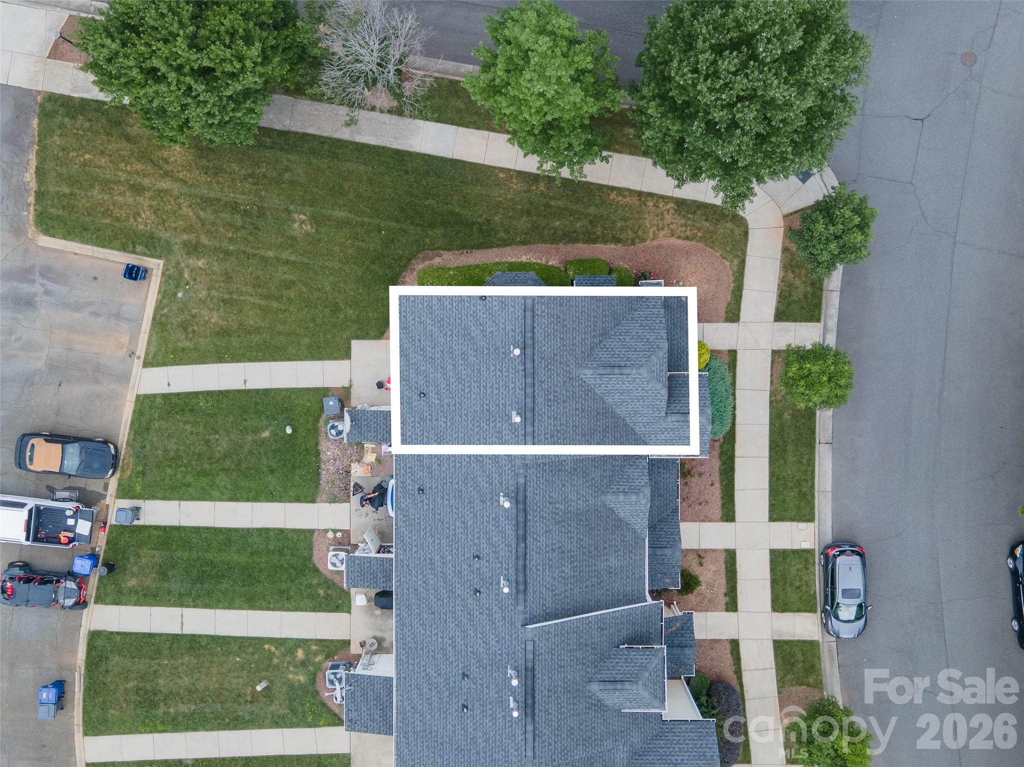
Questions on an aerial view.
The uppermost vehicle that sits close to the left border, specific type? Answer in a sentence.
It turns out the uppermost vehicle that sits close to the left border is a car.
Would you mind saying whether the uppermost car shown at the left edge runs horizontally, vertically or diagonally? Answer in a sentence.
The uppermost car shown at the left edge runs horizontally in the image.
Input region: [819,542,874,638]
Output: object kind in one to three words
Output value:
car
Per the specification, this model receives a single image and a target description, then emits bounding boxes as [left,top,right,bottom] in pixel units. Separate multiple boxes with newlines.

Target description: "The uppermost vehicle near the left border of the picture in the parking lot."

[15,431,123,484]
